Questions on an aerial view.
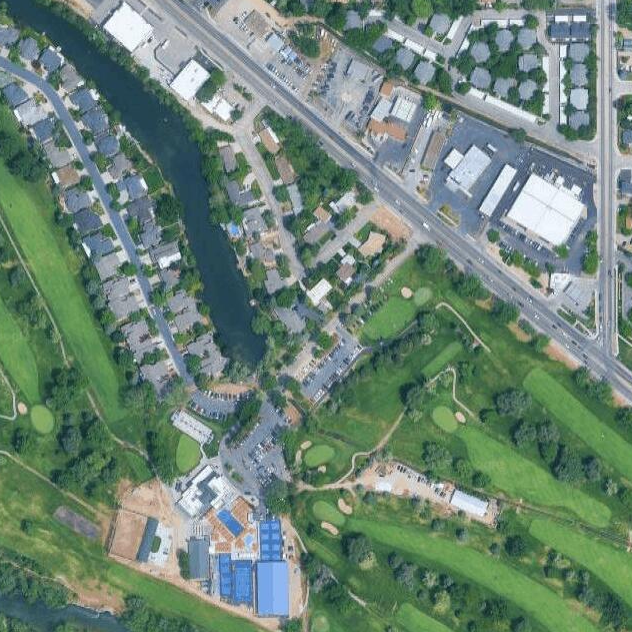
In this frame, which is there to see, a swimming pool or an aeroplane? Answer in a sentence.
It is a swimming pool that can be seen here.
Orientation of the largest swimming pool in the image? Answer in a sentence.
In this picture, the largest swimming pool lies on a diagonal.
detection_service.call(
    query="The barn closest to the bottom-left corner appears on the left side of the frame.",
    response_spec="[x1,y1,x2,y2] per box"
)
[137,518,159,562]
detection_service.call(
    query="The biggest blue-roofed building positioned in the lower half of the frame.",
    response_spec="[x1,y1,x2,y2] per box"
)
[258,562,289,618]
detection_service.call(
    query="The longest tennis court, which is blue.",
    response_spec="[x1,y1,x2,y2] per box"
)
[234,560,252,601]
